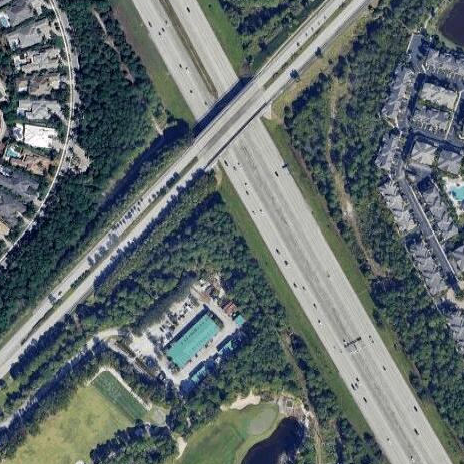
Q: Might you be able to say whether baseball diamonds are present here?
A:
No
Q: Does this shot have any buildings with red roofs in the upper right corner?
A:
No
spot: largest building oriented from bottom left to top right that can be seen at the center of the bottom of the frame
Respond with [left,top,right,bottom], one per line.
[164,315,220,367]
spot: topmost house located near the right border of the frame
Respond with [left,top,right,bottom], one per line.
[425,41,464,81]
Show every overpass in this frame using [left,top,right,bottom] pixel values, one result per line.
[190,75,273,160]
